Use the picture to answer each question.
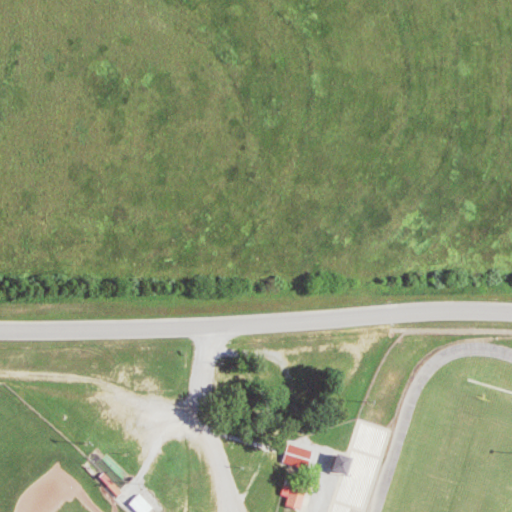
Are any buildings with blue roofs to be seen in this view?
No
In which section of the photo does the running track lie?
bottom right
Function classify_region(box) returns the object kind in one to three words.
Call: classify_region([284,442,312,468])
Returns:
building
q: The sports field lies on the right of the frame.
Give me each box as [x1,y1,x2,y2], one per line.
[382,356,512,512]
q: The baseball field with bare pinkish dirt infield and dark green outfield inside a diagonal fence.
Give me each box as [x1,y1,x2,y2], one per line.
[0,384,118,512]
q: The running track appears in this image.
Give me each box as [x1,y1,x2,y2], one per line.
[368,342,512,512]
